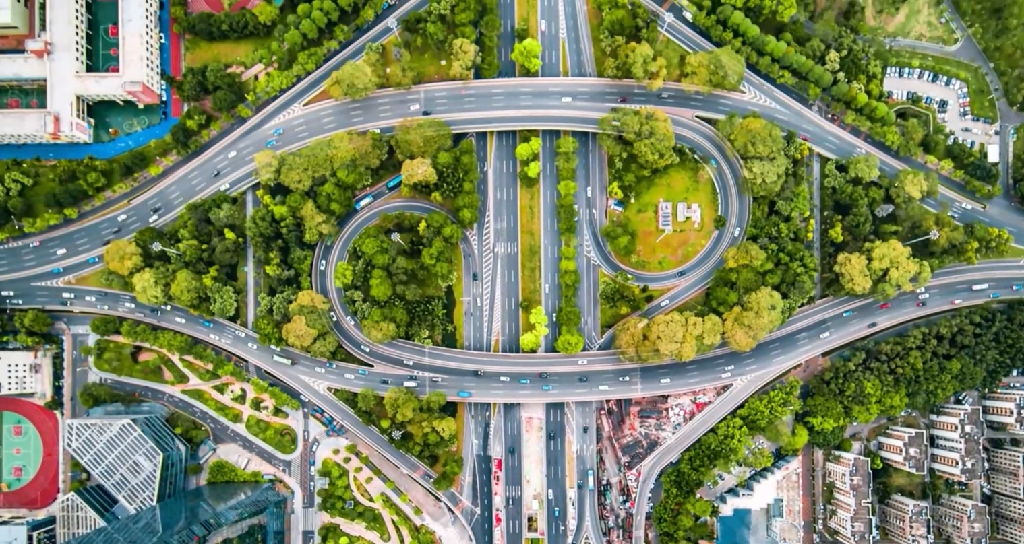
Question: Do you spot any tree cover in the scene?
Yes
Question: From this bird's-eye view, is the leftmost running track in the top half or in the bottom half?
bottom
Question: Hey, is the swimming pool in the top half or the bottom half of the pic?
bottom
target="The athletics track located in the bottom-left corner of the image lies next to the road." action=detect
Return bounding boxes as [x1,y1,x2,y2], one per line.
[0,397,59,509]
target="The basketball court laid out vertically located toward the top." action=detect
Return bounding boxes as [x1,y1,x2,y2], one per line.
[94,0,120,73]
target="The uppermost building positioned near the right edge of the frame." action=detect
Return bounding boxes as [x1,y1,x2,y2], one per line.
[977,388,1024,434]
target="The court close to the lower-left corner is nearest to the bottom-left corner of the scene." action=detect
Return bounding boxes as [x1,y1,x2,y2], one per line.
[0,410,43,492]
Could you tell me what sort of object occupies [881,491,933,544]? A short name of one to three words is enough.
building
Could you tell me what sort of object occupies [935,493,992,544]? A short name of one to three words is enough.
building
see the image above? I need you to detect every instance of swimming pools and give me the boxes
[716,510,770,544]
